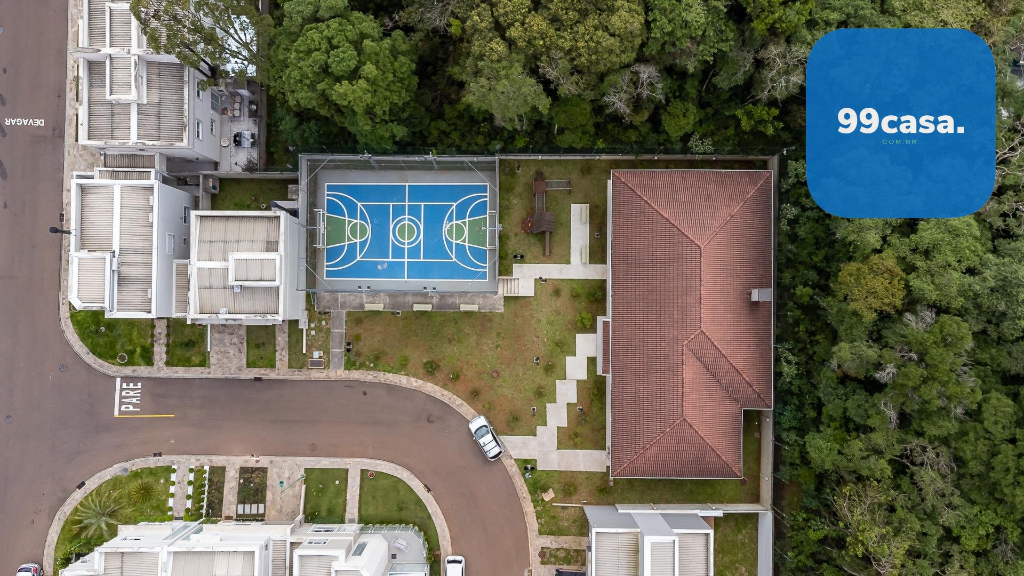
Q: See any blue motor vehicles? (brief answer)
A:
No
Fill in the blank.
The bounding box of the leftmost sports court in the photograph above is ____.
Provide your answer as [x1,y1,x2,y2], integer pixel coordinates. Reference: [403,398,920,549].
[316,170,498,292]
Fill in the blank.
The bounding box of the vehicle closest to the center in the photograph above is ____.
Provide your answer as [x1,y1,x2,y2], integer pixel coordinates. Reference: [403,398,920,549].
[469,413,504,463]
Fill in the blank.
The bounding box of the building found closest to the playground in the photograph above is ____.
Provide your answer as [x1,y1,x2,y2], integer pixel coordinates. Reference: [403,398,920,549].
[595,169,776,479]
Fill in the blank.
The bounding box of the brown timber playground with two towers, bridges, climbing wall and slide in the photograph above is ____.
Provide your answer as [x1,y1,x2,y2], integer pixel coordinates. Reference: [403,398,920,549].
[521,171,571,255]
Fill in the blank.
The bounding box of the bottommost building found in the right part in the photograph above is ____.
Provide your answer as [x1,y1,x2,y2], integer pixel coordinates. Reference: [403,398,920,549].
[580,504,714,576]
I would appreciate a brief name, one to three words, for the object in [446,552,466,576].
car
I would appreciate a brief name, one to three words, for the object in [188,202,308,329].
house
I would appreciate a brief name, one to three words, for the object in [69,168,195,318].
house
